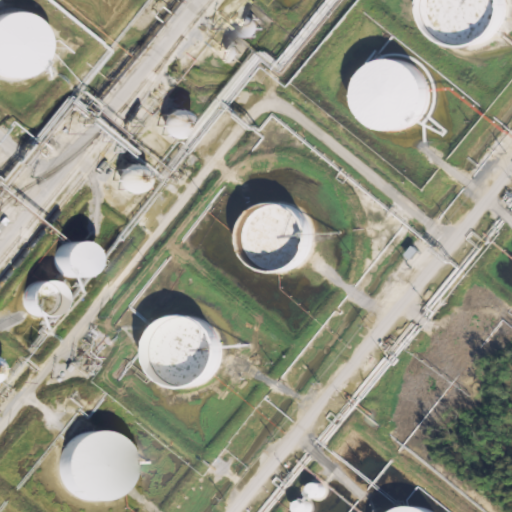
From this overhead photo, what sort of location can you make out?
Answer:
industrial area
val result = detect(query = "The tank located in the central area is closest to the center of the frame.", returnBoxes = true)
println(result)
[233,199,315,276]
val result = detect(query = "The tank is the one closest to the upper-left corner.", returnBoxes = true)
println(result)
[0,10,56,85]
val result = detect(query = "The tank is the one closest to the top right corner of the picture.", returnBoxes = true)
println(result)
[414,0,508,50]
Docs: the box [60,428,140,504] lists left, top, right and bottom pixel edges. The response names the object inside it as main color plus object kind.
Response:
white storage tank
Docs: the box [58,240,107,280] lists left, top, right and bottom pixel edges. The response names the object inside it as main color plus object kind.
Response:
white storage tank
